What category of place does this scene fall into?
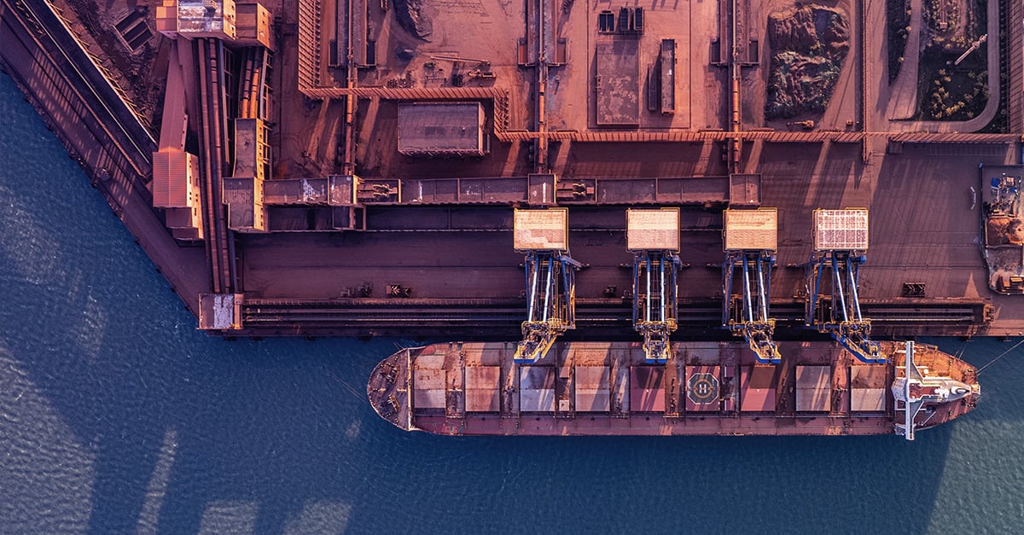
port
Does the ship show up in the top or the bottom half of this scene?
bottom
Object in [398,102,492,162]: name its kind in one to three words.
building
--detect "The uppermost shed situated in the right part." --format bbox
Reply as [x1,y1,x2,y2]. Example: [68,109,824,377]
[661,38,675,115]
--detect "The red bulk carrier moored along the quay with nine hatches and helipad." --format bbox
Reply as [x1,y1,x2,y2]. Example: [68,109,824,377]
[365,342,980,440]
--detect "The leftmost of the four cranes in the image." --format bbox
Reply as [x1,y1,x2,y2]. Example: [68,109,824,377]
[511,206,589,361]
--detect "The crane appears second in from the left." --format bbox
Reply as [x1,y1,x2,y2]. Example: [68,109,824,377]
[618,206,691,361]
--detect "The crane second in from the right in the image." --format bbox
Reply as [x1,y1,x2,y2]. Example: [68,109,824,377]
[706,206,780,361]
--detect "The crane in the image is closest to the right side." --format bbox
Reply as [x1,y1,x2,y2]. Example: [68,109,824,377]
[789,206,883,361]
